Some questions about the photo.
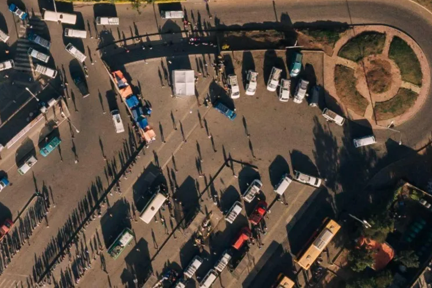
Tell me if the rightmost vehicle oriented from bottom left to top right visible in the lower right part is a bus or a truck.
bus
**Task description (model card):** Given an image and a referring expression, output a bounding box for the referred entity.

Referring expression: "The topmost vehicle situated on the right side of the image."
[289,52,301,74]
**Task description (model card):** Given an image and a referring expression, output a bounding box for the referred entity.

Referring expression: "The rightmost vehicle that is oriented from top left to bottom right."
[320,105,345,125]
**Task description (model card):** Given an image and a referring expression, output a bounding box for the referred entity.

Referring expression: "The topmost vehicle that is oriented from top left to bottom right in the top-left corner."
[7,2,28,21]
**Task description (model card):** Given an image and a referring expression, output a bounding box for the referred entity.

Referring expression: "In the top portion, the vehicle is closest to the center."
[211,102,236,120]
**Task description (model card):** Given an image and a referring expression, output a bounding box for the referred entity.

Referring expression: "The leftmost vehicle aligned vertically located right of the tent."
[226,74,239,97]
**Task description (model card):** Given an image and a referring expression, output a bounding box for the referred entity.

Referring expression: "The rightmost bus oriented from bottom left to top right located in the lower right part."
[290,214,342,269]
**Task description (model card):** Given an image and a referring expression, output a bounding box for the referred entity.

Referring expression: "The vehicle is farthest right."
[351,135,375,148]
